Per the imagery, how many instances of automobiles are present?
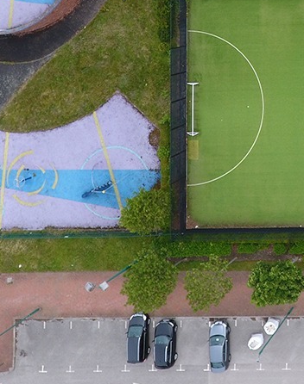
3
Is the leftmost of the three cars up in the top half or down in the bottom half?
bottom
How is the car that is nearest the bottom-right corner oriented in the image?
from top to bottom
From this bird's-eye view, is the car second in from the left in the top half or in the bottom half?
bottom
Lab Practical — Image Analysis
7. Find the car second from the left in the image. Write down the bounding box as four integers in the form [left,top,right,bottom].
[150,318,176,369]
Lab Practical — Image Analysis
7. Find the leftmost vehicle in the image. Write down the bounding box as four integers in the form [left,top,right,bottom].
[123,314,150,362]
